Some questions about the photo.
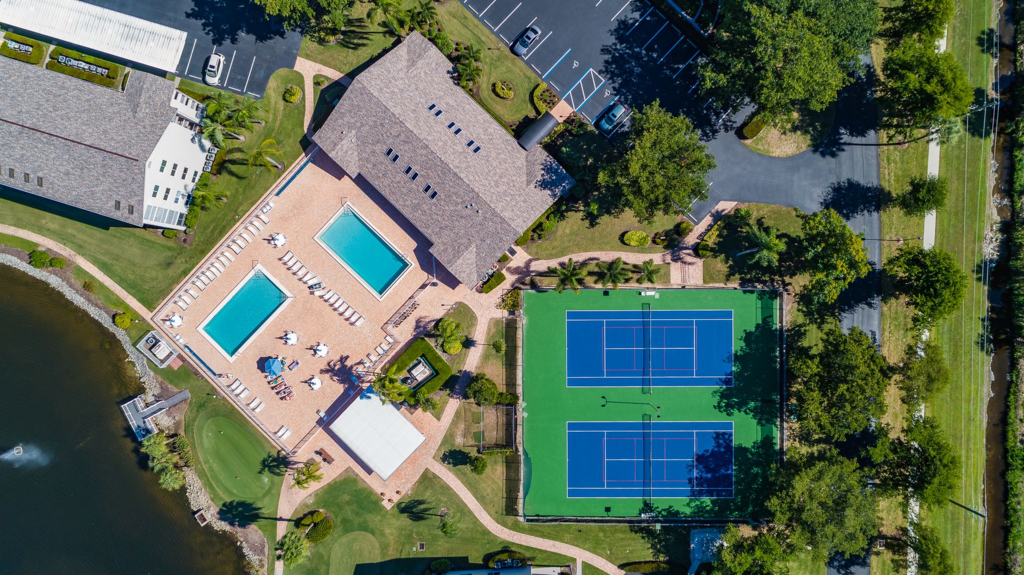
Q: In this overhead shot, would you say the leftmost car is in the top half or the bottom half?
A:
top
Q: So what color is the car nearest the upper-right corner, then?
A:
blue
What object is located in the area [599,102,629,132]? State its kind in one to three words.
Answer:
car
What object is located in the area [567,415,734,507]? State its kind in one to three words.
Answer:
tennis court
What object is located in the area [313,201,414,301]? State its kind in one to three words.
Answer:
swimming pool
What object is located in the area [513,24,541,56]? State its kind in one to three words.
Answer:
car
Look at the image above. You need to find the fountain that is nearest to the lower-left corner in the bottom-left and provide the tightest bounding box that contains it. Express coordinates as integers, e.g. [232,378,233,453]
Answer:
[0,442,51,474]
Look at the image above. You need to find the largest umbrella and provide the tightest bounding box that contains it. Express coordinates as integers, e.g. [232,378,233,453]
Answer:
[265,358,282,376]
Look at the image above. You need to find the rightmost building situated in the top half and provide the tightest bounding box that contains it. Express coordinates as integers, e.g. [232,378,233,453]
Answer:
[313,30,574,289]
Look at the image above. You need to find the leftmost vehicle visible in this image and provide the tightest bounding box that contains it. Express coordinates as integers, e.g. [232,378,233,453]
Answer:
[204,53,224,86]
